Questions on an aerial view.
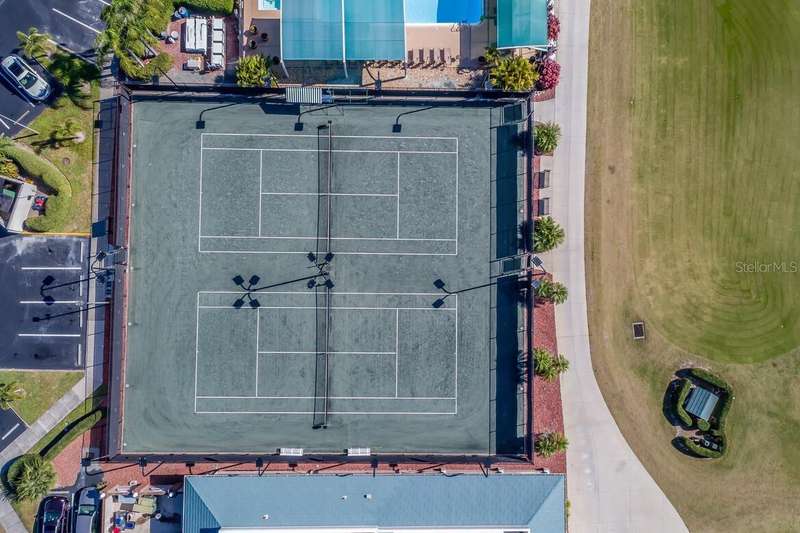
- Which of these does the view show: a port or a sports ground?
sports ground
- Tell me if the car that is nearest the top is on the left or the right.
left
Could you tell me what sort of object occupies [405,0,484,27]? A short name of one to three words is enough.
swimming pool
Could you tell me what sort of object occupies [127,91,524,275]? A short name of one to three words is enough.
tennis court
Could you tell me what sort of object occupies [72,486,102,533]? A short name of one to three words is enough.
car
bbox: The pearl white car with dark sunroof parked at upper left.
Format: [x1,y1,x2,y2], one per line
[0,55,51,105]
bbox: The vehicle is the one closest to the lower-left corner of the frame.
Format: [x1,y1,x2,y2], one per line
[41,493,71,533]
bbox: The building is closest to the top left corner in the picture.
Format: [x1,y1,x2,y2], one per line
[0,173,38,232]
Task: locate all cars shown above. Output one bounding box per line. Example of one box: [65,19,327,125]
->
[72,486,102,533]
[0,55,51,105]
[41,493,71,533]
